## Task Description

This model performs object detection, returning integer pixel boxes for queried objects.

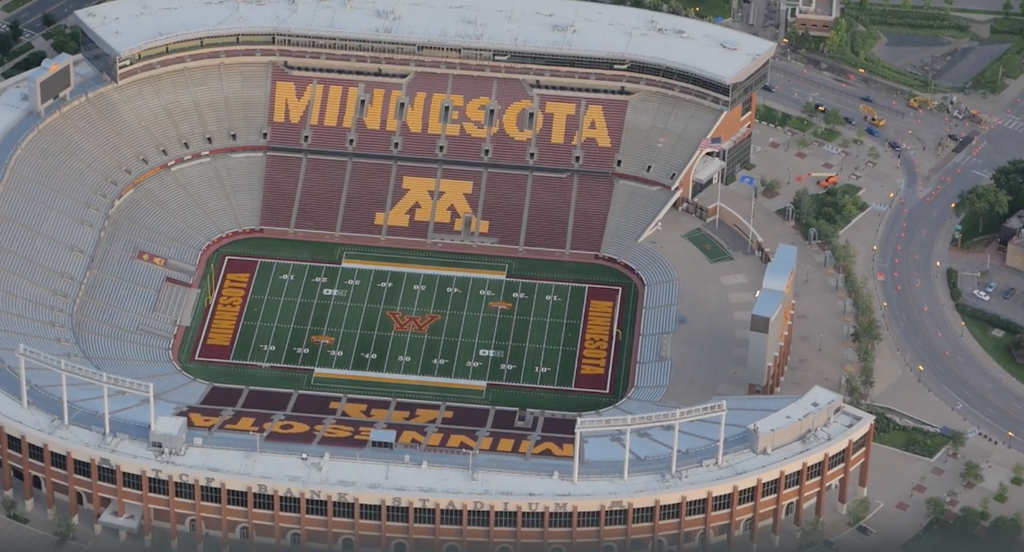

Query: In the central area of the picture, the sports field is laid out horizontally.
[178,238,637,414]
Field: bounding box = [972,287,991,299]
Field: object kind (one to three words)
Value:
vehicle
